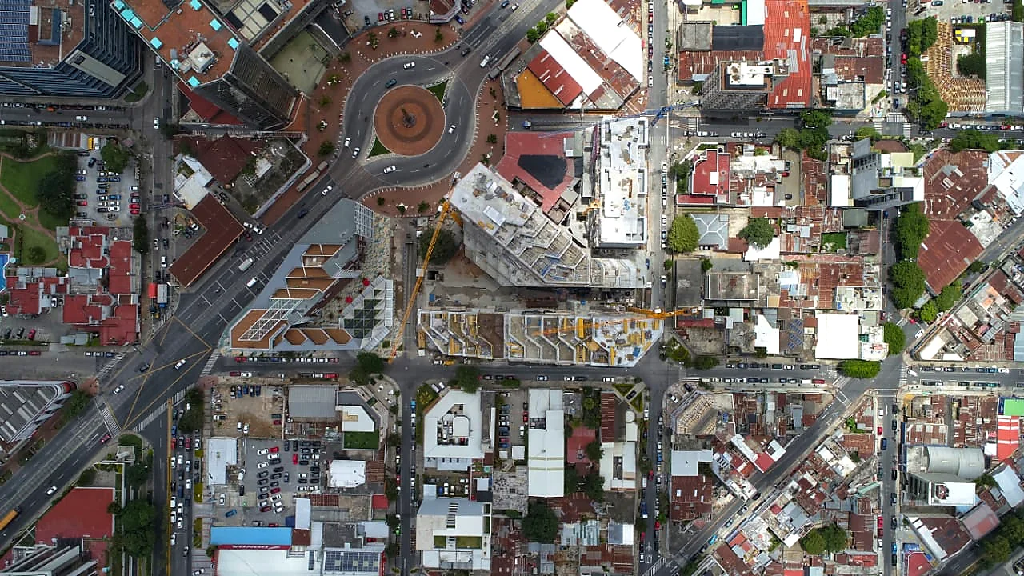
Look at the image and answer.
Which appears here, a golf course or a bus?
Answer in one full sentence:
Of the two, only a bus appears.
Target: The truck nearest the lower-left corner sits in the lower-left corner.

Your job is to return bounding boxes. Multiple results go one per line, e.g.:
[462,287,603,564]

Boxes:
[0,507,23,530]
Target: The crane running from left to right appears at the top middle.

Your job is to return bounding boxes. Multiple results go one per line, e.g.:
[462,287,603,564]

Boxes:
[538,98,701,139]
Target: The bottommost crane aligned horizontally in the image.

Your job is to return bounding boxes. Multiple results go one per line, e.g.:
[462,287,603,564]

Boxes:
[534,302,705,336]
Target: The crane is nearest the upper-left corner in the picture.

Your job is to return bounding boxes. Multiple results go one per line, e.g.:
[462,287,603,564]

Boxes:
[388,168,466,362]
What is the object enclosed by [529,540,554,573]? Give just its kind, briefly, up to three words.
shed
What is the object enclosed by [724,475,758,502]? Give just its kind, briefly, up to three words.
house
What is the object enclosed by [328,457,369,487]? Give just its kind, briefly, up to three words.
building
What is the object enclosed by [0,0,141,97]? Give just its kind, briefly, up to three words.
building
